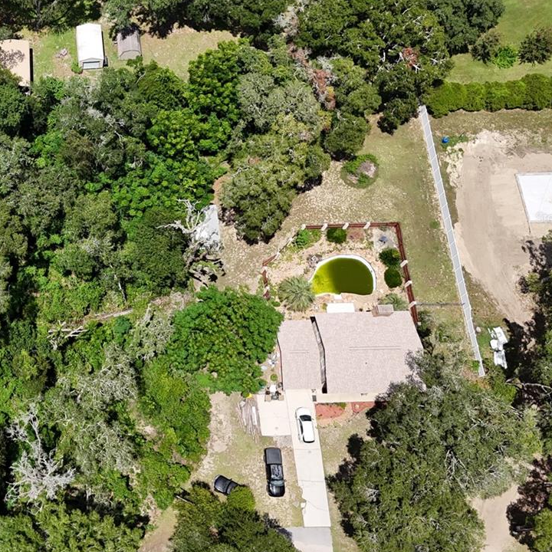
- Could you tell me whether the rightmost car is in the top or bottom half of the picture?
bottom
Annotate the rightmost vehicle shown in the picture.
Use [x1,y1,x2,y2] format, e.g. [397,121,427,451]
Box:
[295,406,316,445]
